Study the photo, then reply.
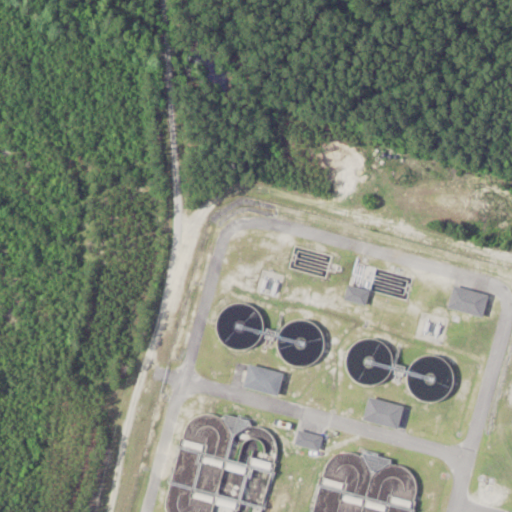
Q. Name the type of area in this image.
industrial area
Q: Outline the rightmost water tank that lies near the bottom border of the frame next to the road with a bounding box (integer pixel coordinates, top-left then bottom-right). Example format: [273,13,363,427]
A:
[312,452,418,512]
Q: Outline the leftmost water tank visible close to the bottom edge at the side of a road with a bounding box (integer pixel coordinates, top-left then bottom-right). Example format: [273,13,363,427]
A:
[168,413,278,512]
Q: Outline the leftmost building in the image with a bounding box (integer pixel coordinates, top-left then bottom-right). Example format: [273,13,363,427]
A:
[243,365,283,396]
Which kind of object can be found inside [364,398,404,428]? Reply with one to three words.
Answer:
building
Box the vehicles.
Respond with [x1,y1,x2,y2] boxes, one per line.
[308,451,322,457]
[276,422,292,430]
